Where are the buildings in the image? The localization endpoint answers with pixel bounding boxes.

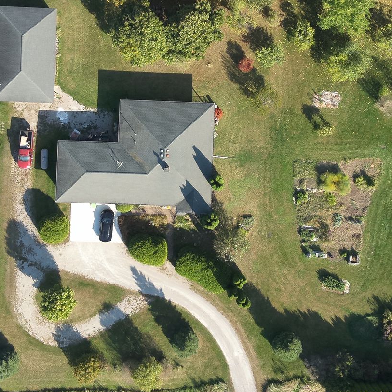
[55,99,228,216]
[0,6,58,104]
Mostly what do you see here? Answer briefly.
grass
